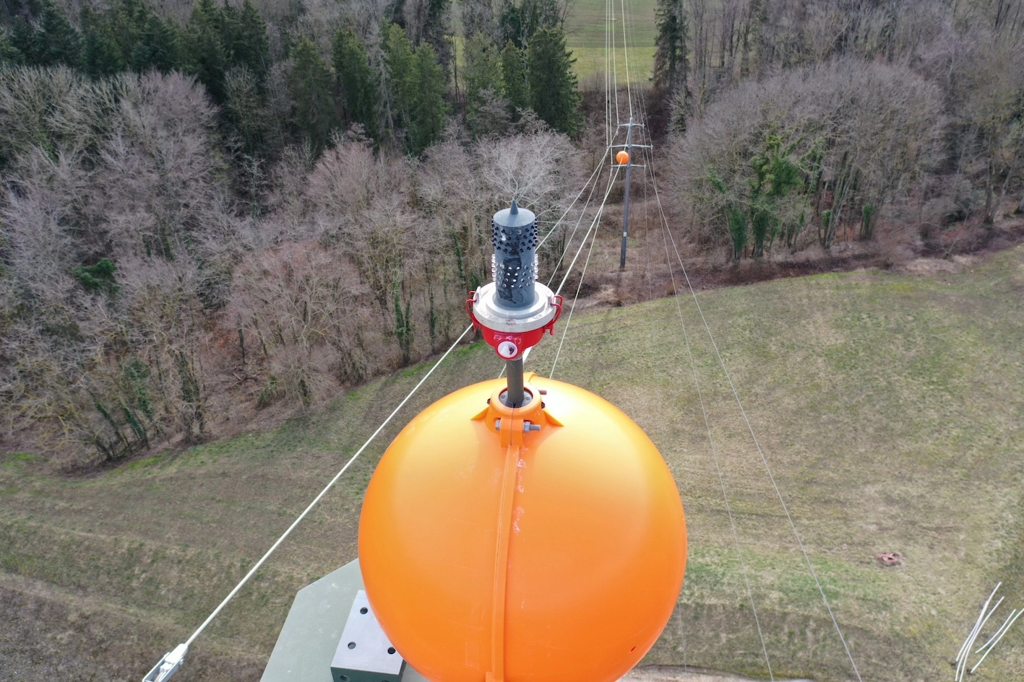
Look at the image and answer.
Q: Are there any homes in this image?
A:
No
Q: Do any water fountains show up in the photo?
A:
No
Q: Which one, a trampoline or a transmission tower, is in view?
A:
transmission tower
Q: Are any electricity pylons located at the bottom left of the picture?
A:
No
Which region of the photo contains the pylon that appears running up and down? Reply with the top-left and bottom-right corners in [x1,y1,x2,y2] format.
[607,116,652,266]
